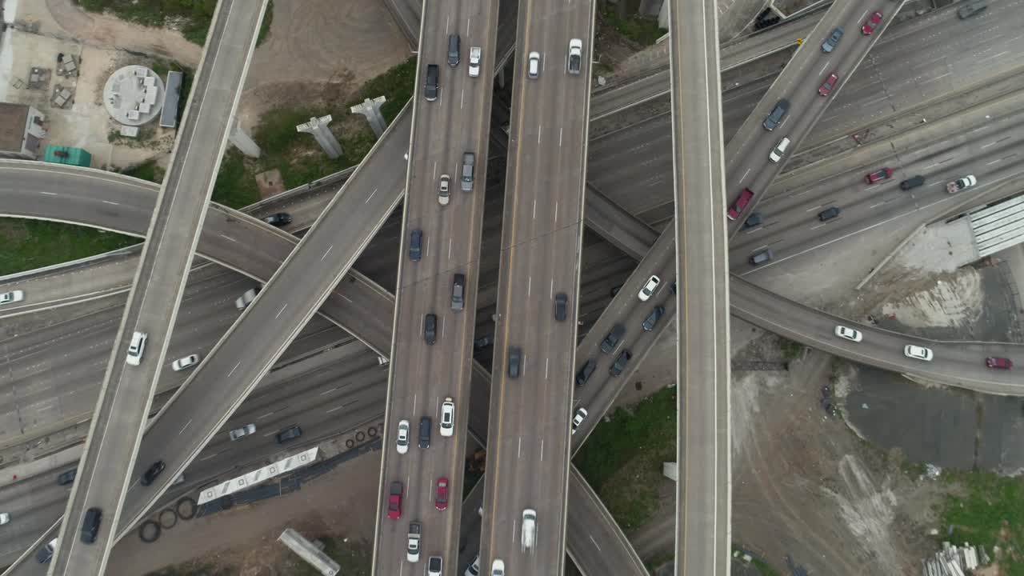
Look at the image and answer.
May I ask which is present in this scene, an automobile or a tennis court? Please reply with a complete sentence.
Looking from above, you can make out an automobile.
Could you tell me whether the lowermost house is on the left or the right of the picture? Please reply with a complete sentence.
You can find the lowermost house on the left side of the picture.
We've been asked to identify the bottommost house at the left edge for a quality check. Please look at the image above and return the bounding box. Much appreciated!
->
[0,103,55,161]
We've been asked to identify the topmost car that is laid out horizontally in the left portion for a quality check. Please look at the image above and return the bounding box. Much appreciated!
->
[263,211,290,226]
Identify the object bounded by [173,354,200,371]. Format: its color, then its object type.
white car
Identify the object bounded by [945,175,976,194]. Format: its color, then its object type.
white vehicle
